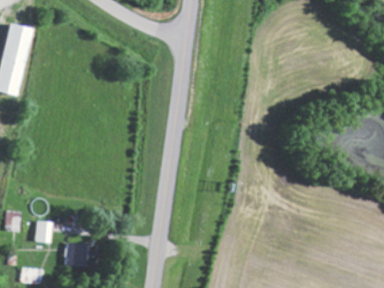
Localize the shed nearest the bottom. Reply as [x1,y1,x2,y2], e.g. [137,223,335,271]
[20,266,44,284]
